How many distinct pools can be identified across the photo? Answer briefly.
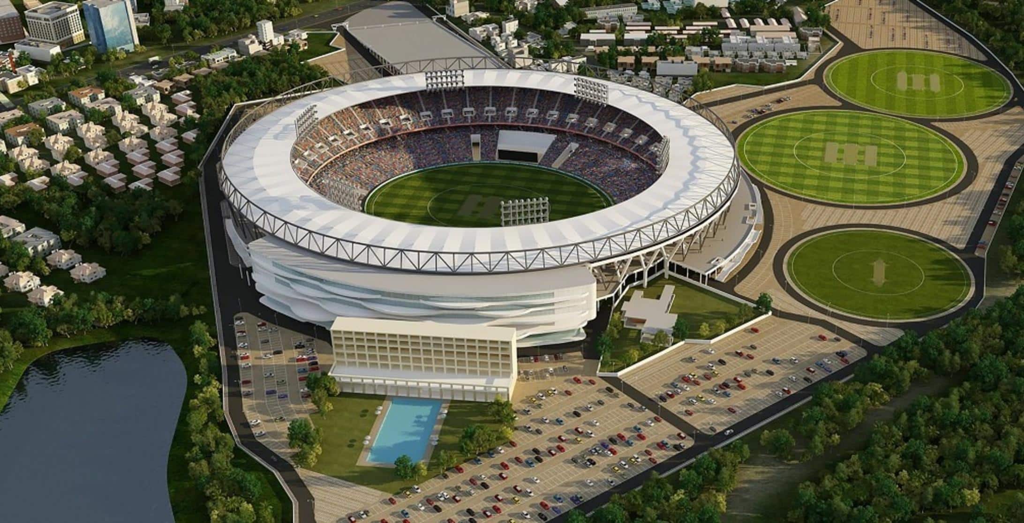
1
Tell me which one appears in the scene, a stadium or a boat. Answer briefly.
stadium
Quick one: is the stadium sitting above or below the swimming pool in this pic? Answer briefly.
above it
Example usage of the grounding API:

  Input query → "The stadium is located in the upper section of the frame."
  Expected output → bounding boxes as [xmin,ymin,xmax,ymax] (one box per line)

[218,54,746,297]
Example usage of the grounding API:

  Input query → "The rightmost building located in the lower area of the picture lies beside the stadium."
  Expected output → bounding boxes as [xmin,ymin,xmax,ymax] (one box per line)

[621,285,678,346]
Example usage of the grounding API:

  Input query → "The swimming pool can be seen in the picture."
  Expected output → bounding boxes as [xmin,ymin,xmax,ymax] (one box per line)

[356,396,452,467]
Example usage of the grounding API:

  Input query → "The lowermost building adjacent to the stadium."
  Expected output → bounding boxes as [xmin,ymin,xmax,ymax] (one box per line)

[325,316,516,399]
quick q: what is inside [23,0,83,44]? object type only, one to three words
building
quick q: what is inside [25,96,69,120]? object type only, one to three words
building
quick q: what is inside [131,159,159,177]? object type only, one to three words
house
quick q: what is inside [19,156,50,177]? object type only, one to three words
house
